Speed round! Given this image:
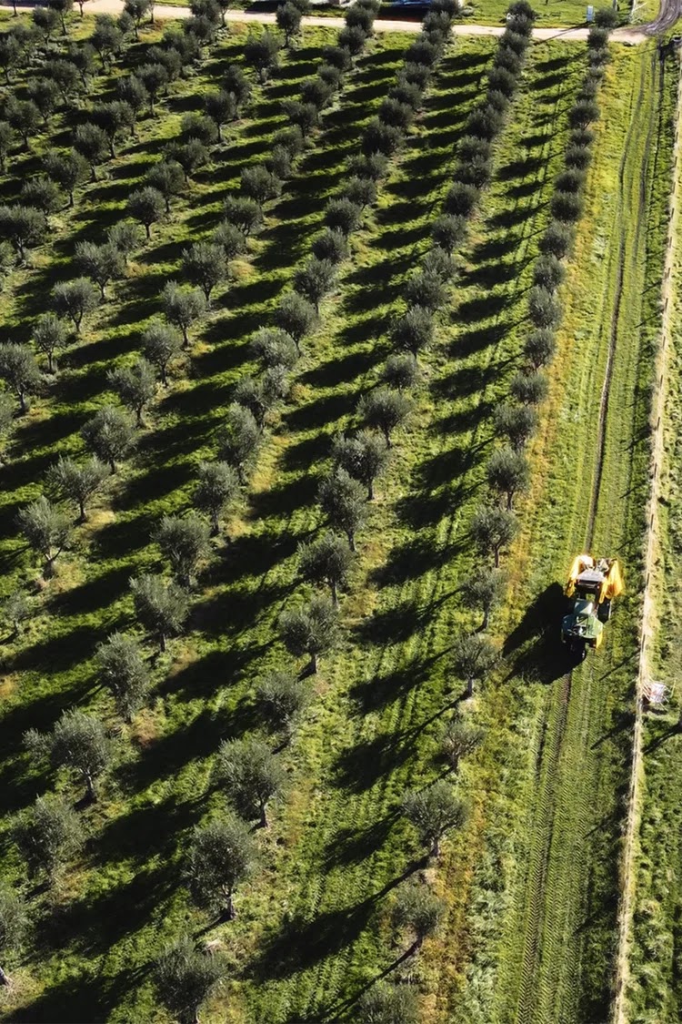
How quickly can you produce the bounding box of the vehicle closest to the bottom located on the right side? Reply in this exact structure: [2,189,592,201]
[559,553,624,664]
